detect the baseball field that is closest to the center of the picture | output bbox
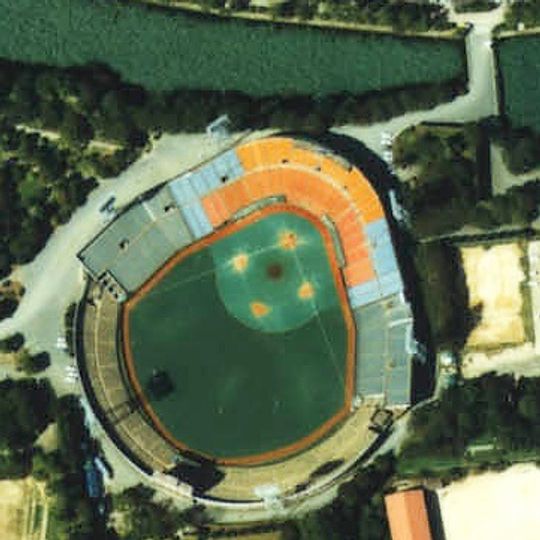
[120,204,355,466]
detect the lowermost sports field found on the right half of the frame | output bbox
[433,465,540,540]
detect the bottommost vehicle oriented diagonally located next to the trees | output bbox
[94,459,109,478]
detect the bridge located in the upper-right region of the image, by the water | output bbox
[469,41,499,117]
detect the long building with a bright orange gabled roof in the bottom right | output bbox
[385,489,432,540]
